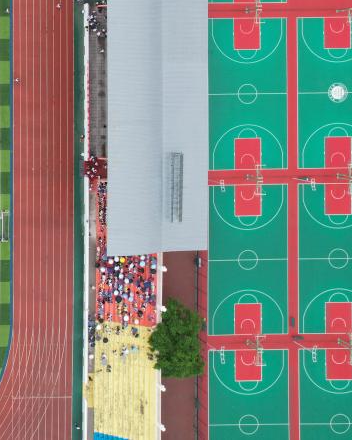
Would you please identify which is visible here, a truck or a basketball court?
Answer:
basketball court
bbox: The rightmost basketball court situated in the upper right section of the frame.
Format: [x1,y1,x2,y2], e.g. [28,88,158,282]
[297,17,352,168]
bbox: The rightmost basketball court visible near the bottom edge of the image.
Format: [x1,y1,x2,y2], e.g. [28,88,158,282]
[298,349,352,440]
